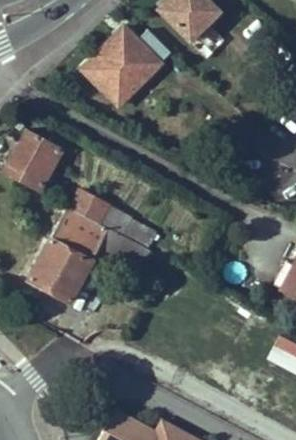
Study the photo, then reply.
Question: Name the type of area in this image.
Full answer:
The area seen from above is a residential area.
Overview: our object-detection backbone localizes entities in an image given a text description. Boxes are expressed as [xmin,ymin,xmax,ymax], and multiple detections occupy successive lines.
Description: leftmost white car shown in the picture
[72,294,87,314]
